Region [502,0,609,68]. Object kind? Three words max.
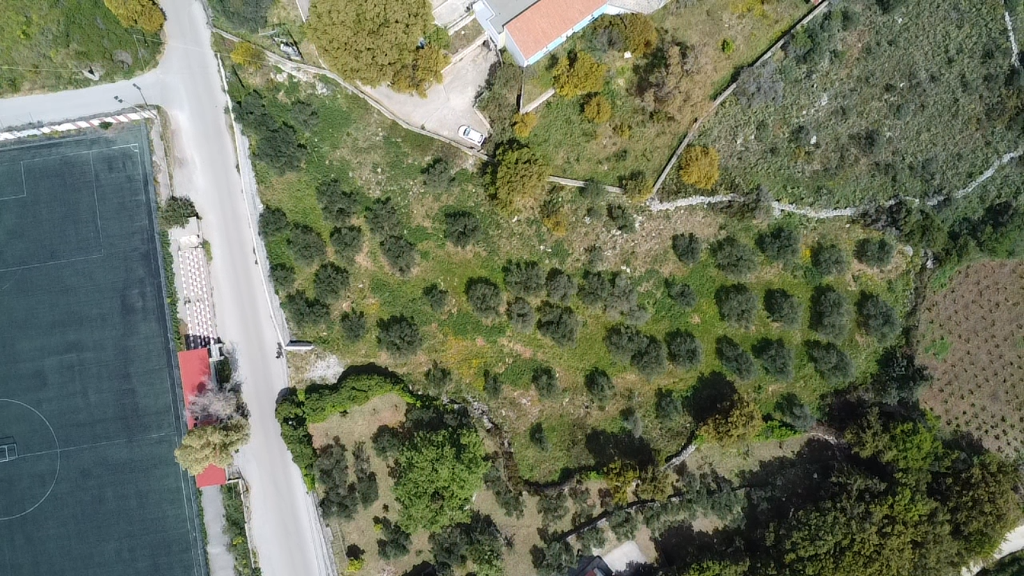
house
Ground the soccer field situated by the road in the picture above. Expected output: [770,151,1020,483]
[0,122,207,576]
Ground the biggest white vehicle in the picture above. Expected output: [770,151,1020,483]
[458,125,487,147]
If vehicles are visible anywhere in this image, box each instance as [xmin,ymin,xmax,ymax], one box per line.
[458,125,487,147]
[277,344,282,357]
